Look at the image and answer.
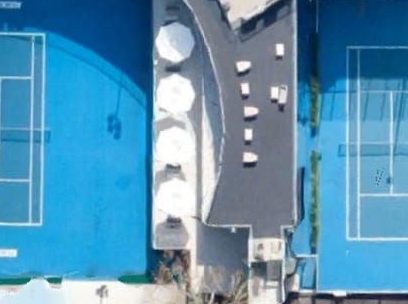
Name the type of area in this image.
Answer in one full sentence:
The picture captures a sports ground.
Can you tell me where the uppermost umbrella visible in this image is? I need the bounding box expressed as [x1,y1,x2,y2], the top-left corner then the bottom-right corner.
[155,23,194,63]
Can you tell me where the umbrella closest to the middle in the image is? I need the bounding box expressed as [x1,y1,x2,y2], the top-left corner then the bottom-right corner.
[154,126,193,165]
